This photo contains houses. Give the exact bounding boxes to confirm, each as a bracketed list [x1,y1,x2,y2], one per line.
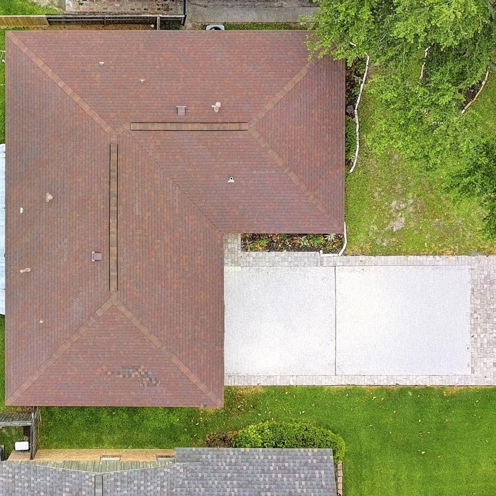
[3,28,347,408]
[0,443,337,496]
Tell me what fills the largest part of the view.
buildings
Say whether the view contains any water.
No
